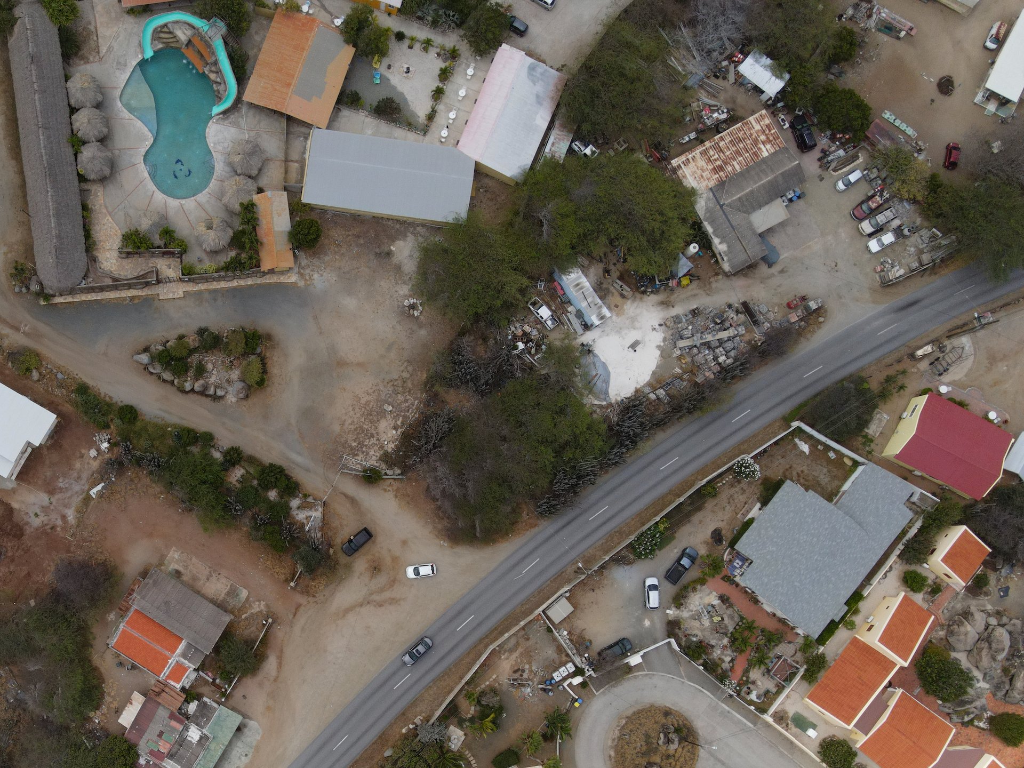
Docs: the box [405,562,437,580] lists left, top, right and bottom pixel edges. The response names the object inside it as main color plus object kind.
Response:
white car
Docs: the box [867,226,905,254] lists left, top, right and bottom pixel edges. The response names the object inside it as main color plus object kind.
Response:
white truck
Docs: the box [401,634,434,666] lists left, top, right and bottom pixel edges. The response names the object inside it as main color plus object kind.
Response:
gray car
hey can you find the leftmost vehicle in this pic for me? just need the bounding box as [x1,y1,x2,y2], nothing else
[339,525,376,555]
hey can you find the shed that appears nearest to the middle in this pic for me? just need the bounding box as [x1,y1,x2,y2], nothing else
[553,268,611,330]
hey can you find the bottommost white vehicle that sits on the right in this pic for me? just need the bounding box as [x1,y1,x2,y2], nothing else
[642,575,660,610]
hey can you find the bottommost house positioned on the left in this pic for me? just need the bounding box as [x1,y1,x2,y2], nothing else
[118,680,246,768]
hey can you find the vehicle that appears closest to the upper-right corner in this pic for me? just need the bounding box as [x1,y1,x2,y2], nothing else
[982,18,1009,52]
